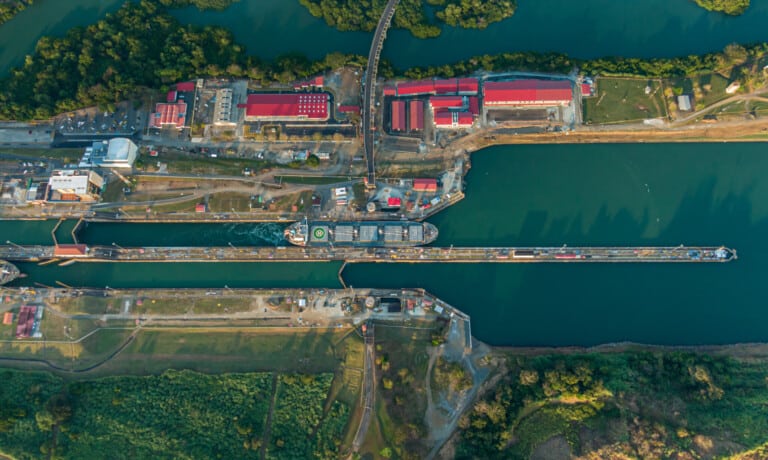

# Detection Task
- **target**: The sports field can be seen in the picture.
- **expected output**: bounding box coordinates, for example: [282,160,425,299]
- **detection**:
[584,78,670,124]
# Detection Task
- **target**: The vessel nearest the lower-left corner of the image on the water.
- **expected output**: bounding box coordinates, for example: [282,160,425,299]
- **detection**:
[0,260,28,284]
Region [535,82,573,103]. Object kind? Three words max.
building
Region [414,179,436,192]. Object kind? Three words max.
shed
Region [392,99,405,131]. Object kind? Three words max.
shed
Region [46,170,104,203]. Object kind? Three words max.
building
